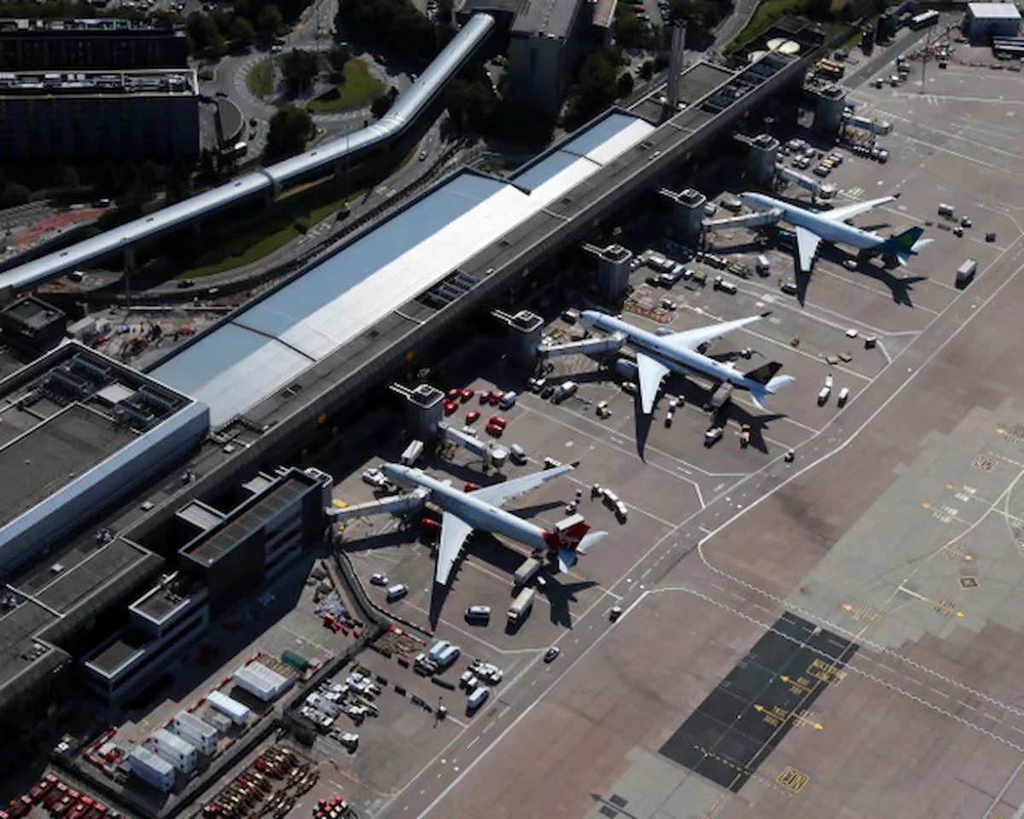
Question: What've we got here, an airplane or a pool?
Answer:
airplane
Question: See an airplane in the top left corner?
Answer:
No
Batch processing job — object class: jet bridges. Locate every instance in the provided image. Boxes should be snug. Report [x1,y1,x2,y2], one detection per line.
[772,163,837,208]
[533,332,631,374]
[324,489,436,540]
[838,110,892,144]
[434,420,508,475]
[697,209,787,248]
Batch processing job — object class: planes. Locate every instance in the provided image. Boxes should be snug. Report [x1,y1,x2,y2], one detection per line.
[737,189,930,271]
[378,459,603,583]
[581,309,793,411]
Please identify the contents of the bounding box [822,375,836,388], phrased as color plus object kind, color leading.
white vehicle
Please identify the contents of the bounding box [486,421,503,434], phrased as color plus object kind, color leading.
red vehicle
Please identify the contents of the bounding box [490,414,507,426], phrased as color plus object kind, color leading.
red vehicle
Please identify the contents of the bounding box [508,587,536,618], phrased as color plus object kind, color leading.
white truck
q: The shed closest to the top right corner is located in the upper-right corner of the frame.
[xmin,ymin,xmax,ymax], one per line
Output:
[957,0,1023,45]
